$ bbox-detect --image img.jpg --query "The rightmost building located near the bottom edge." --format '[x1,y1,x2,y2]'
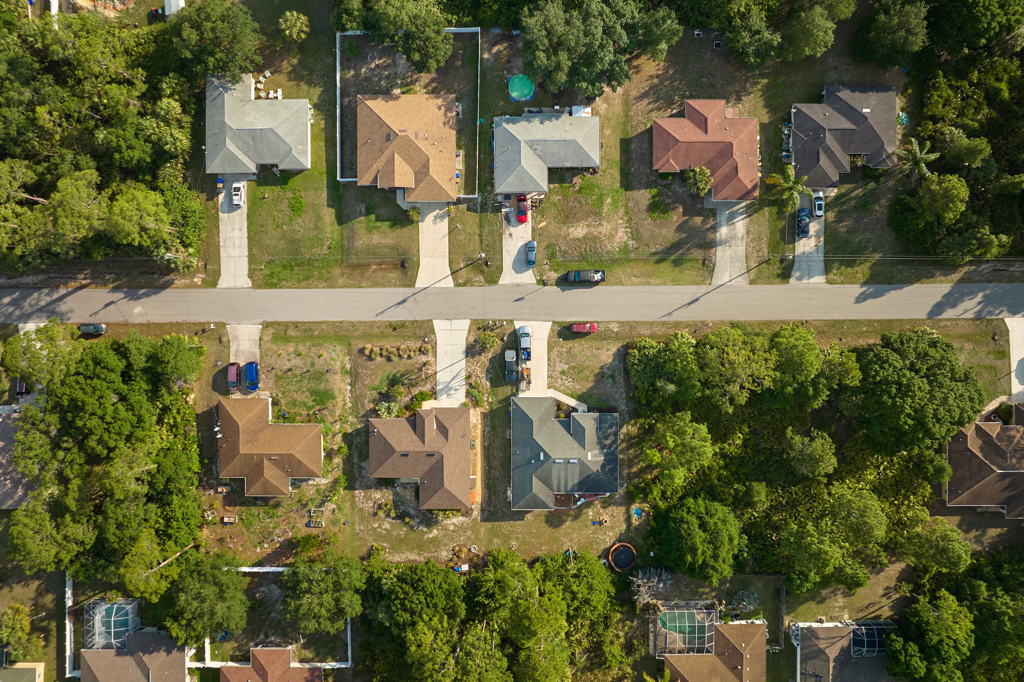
[797,623,903,682]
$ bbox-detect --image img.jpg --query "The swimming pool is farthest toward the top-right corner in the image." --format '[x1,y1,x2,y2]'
[508,73,535,101]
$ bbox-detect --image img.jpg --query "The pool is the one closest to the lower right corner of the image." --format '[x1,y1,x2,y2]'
[855,628,893,652]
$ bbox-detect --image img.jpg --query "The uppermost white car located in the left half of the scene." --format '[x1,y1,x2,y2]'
[230,182,245,208]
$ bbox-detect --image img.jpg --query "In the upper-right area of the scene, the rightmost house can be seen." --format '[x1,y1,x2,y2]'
[788,85,896,188]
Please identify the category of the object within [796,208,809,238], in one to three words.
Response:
vehicle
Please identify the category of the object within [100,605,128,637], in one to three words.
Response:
swimming pool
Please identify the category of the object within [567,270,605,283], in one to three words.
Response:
vehicle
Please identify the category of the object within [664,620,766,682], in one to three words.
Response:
house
